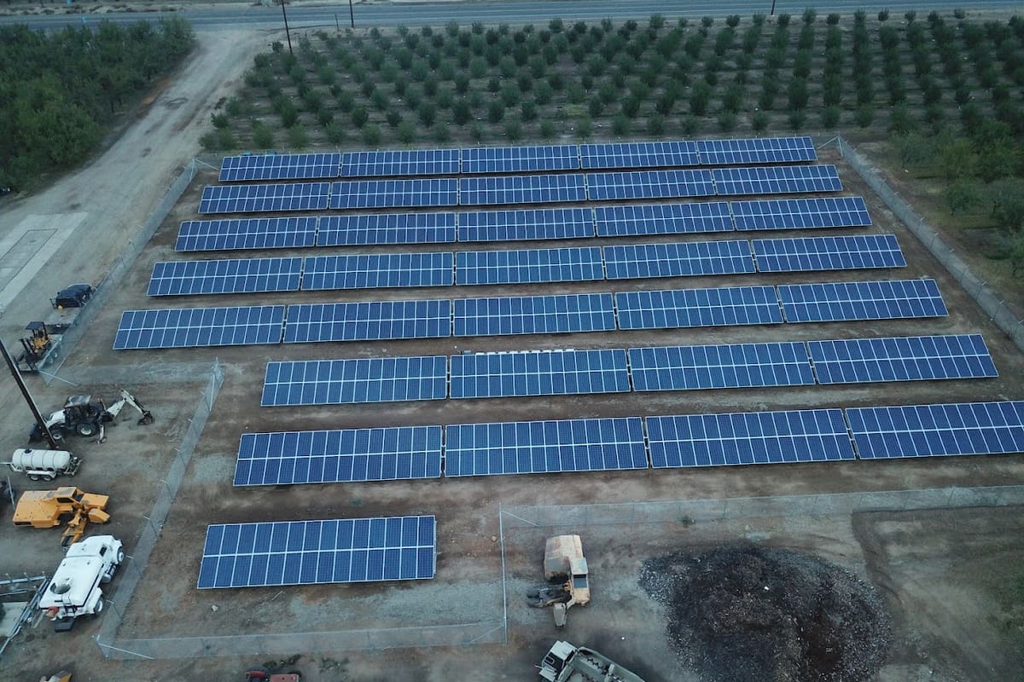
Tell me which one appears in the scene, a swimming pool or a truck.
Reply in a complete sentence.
There is a truck in the scene.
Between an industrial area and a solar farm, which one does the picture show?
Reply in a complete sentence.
This looks like a solar farm.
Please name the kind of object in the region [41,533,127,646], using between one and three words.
truck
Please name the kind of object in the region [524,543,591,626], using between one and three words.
work vehicle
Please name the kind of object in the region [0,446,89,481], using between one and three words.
trailer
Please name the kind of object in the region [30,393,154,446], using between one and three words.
work vehicle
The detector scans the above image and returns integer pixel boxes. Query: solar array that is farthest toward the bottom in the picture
[197,515,436,589]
